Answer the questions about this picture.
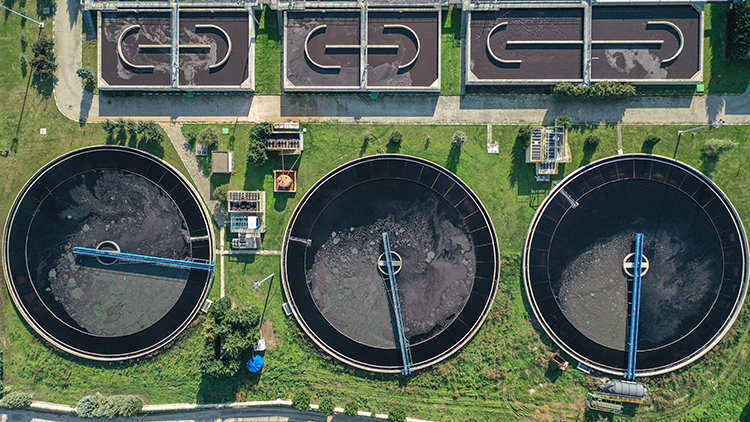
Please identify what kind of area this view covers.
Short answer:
industrial area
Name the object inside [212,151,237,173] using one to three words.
shed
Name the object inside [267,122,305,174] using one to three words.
building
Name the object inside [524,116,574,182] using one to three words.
building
